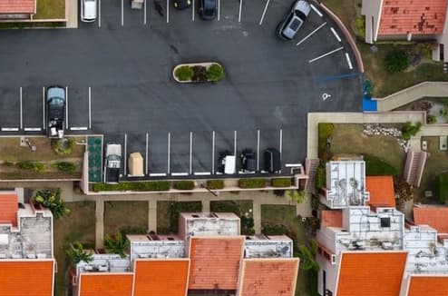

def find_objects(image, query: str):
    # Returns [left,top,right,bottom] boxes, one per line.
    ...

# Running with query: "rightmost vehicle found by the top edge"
[276,0,309,40]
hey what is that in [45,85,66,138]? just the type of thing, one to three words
truck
